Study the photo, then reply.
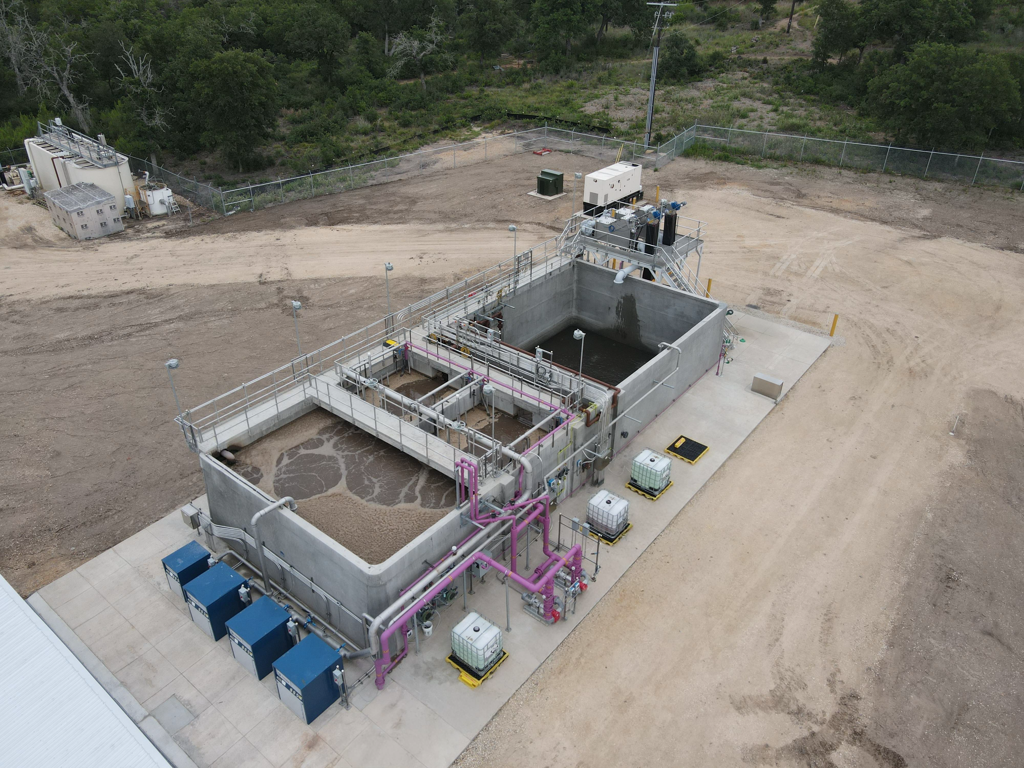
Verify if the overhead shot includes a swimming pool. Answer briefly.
No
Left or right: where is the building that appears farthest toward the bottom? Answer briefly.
left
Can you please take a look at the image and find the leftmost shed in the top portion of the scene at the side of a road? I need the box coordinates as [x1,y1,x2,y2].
[39,182,122,240]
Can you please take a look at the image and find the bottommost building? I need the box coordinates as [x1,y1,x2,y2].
[0,569,183,768]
